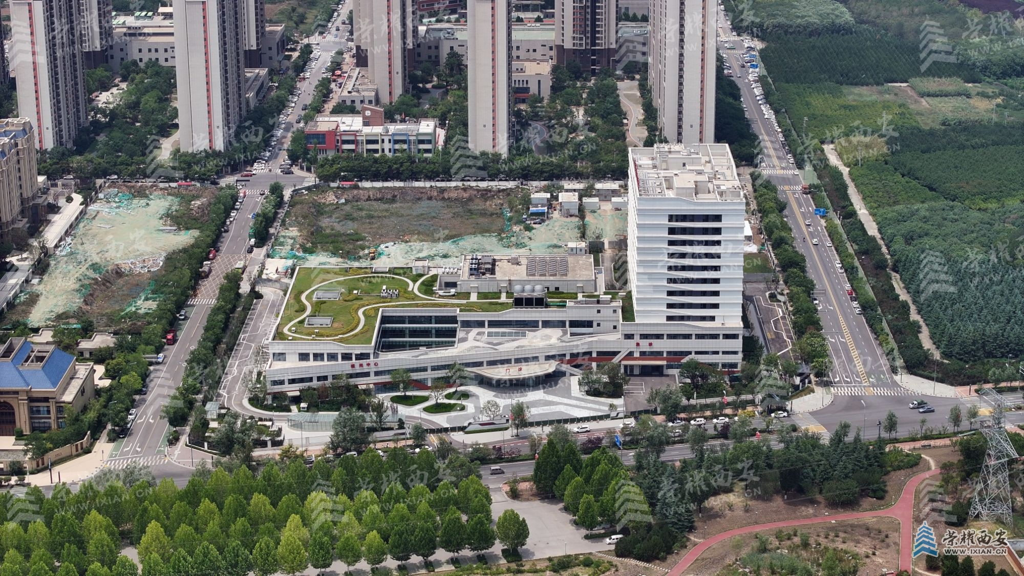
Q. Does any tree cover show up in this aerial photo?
Yes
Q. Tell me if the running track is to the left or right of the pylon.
to the left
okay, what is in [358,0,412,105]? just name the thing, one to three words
building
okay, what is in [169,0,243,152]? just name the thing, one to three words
building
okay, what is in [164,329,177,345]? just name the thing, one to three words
vehicle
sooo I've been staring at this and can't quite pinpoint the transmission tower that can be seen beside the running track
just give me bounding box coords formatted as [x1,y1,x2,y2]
[962,382,1024,522]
